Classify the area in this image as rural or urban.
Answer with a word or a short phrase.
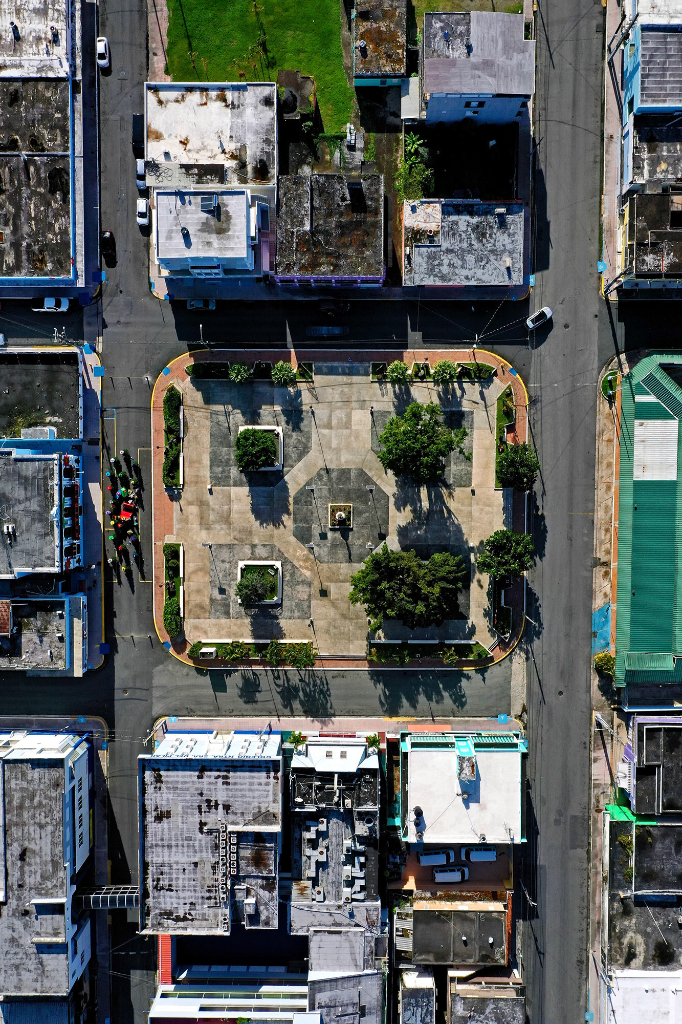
urban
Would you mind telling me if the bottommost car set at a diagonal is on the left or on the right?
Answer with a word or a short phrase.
right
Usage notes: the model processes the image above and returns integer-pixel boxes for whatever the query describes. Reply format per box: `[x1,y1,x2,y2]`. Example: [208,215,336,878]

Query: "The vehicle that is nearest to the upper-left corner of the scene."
[94,35,111,69]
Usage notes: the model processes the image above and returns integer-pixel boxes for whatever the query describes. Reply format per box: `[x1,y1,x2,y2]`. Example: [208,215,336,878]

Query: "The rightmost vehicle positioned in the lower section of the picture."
[460,843,496,862]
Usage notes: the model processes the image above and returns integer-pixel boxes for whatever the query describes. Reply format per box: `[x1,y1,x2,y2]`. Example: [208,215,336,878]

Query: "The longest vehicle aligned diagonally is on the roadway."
[525,307,555,332]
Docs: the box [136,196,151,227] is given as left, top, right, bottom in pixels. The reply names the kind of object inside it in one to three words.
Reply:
car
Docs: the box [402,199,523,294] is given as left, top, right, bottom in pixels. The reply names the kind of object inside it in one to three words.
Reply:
house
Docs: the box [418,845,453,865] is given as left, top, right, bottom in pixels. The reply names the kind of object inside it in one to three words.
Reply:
vehicle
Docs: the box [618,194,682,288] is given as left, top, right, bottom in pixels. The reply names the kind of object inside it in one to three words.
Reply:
building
